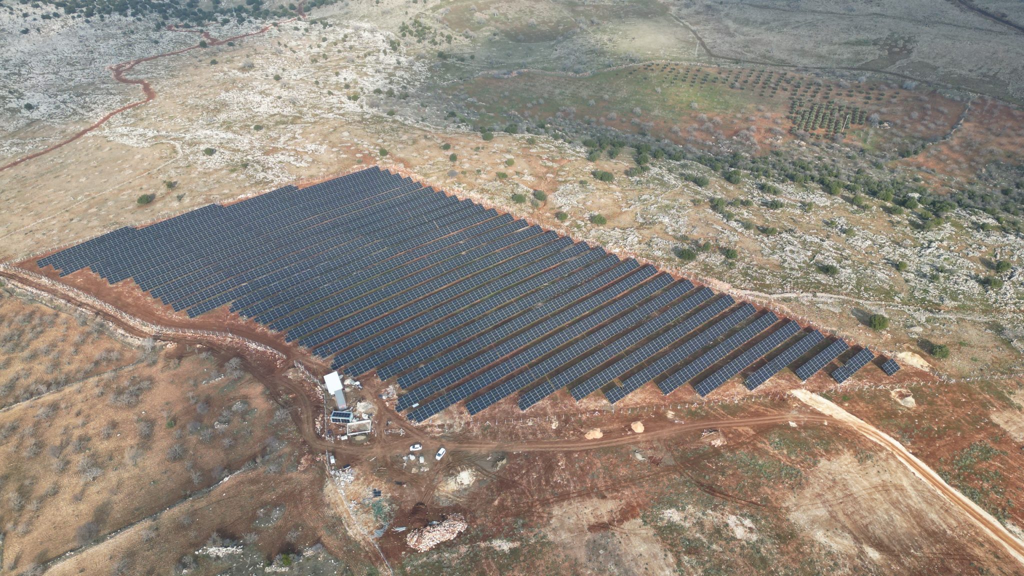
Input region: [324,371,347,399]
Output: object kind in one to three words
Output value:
shed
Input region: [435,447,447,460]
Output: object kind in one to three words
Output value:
vehicle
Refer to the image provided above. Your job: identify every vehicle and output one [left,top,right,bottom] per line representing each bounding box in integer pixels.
[435,447,447,460]
[408,443,424,453]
